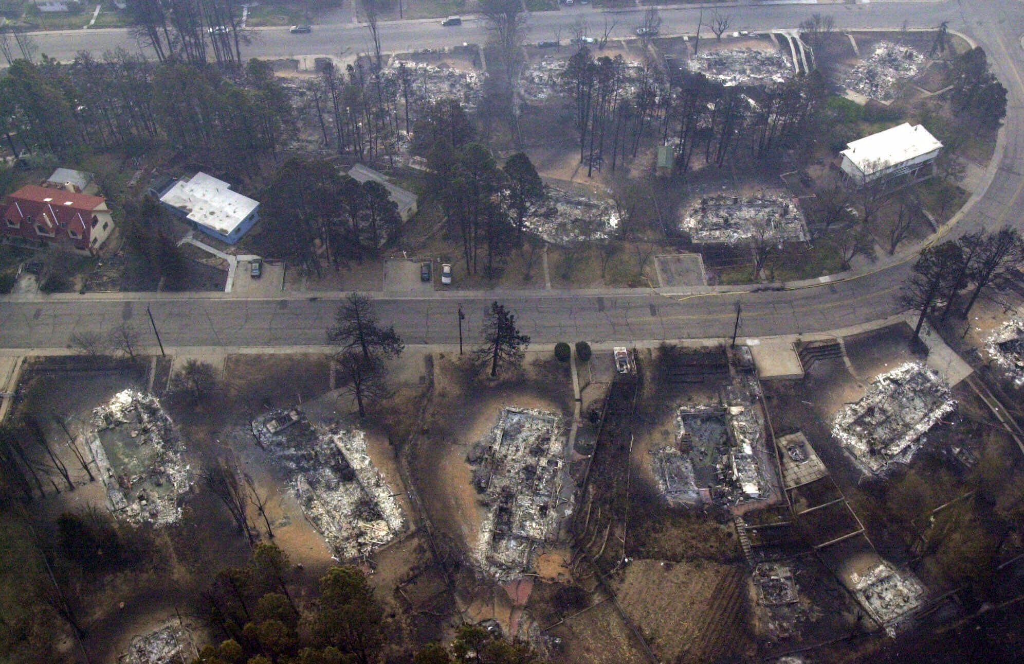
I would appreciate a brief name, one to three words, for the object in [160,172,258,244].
house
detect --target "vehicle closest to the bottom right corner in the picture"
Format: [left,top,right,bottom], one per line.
[616,347,629,370]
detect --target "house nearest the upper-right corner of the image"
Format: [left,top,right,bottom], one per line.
[837,123,944,197]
